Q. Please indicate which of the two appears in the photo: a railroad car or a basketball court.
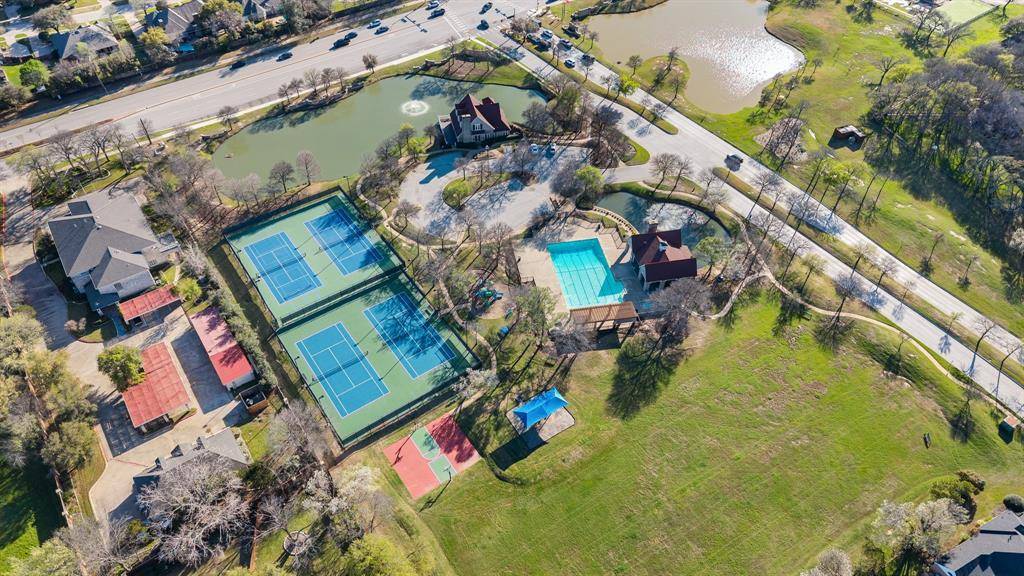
basketball court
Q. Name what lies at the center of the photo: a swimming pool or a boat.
swimming pool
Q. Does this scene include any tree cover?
Yes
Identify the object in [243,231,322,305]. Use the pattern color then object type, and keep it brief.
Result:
blue tennis court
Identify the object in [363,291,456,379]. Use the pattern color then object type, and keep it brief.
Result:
blue tennis court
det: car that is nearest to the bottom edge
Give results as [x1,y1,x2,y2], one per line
[131,316,143,328]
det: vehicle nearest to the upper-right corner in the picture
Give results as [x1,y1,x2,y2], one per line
[726,151,745,165]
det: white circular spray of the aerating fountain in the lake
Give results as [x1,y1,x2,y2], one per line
[399,98,432,118]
